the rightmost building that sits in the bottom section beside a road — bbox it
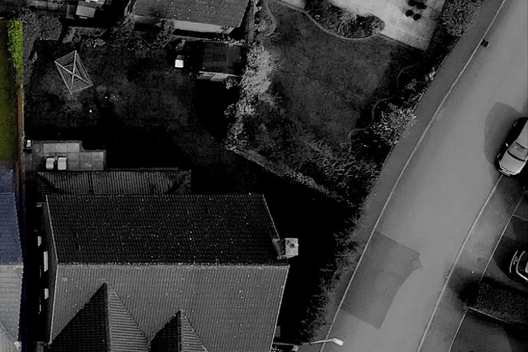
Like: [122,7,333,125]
[35,170,300,352]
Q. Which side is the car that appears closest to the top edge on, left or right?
right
